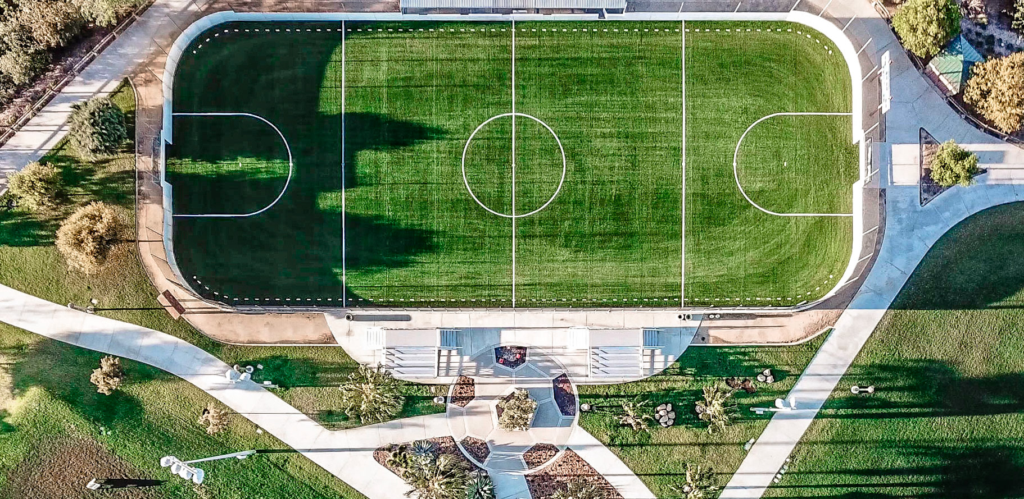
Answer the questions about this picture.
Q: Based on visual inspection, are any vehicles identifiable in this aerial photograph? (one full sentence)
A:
No, the photo shows no vehicle.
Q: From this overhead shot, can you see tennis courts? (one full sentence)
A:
No, the picture doesn't show any tennis court.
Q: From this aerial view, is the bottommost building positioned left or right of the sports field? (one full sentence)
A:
Relative to the sports field, the bottommost building is on the right.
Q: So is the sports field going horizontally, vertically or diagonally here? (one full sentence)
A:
In this picture, the sports field lies horizontally.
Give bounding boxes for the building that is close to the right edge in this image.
[920,34,984,100]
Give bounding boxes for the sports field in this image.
[167,21,860,307]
